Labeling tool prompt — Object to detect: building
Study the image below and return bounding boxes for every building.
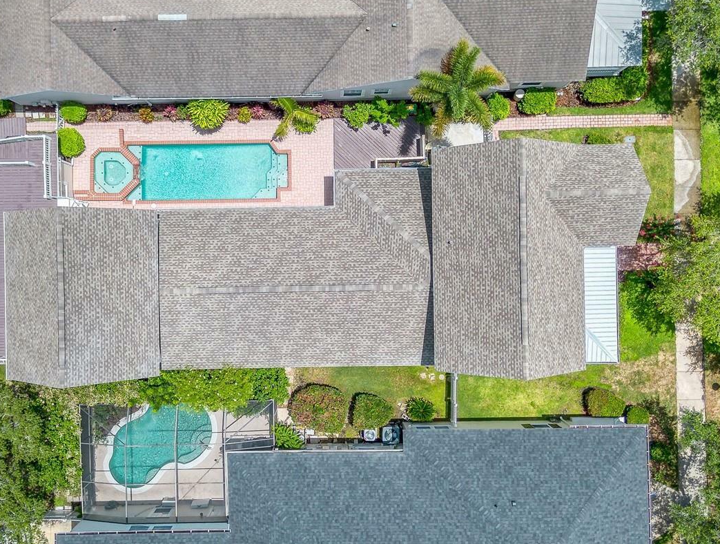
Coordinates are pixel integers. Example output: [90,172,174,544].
[3,139,651,387]
[53,416,654,544]
[0,0,666,103]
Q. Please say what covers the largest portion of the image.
buildings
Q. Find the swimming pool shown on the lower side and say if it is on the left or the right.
left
